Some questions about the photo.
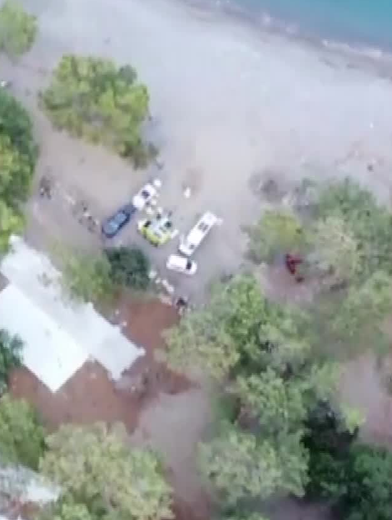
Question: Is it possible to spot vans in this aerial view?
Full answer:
Yes, a van is visible in the scene.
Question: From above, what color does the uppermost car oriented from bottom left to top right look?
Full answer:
In this view, the uppermost car oriented from bottom left to top right is white.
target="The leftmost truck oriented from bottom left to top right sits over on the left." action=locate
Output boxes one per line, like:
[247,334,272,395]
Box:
[101,203,139,243]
